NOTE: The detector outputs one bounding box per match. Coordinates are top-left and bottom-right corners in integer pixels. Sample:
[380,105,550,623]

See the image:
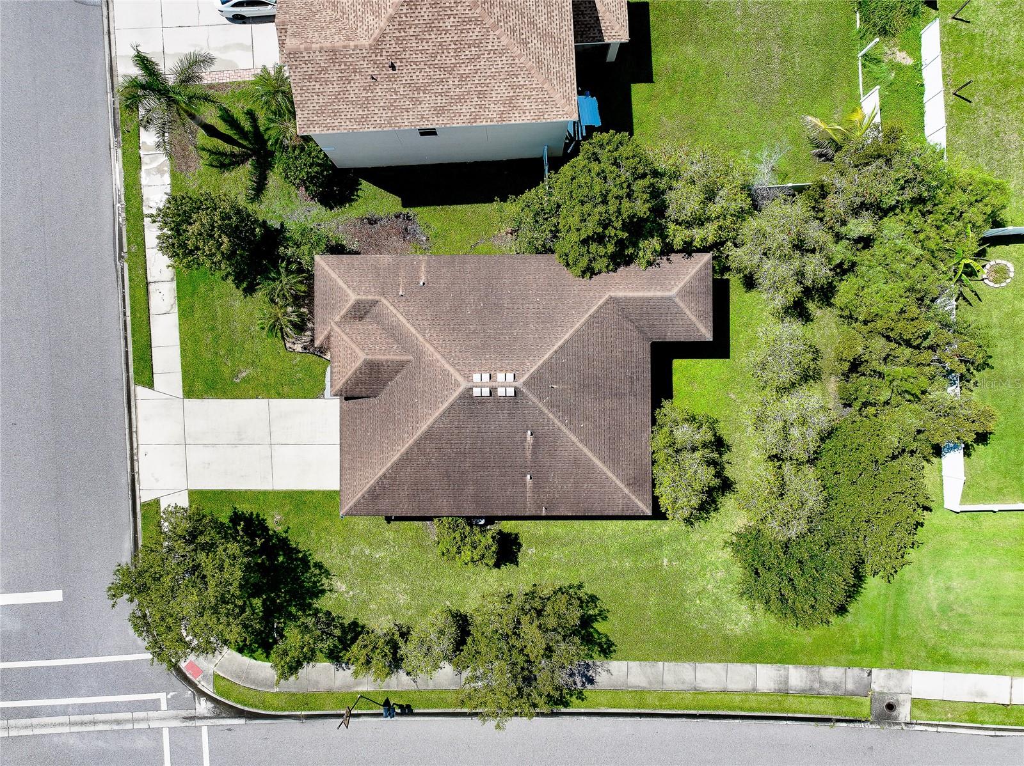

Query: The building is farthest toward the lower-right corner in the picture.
[314,254,713,517]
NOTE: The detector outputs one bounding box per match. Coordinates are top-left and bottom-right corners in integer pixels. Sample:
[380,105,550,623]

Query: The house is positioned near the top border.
[272,0,631,167]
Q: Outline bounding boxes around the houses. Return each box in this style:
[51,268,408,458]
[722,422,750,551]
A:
[272,0,631,167]
[314,254,713,517]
